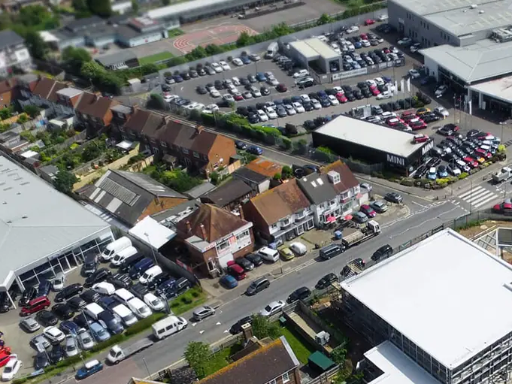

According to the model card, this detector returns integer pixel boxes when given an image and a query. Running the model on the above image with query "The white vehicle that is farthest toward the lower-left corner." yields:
[1,358,23,379]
